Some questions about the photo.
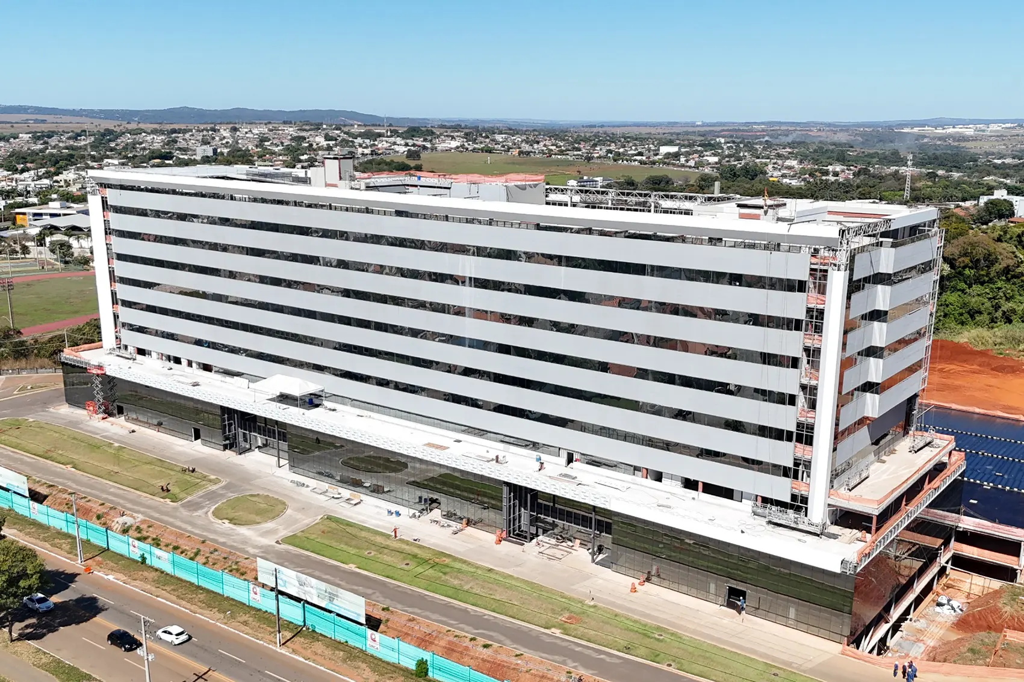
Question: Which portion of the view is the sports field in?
left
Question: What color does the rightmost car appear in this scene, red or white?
white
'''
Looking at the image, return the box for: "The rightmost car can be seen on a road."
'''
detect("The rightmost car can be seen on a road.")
[157,622,192,644]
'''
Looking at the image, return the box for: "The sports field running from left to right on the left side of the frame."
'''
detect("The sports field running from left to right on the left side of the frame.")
[0,276,121,338]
